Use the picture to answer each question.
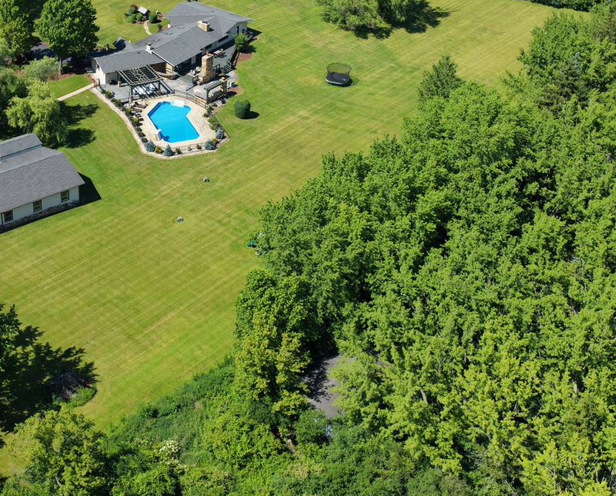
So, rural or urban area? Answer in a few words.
rural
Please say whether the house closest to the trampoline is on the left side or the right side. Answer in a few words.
left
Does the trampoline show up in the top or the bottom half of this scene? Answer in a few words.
top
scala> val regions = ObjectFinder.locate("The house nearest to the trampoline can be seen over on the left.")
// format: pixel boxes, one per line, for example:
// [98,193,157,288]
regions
[85,2,255,84]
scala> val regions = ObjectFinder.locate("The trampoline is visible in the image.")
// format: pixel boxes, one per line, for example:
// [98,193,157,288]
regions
[326,57,353,81]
